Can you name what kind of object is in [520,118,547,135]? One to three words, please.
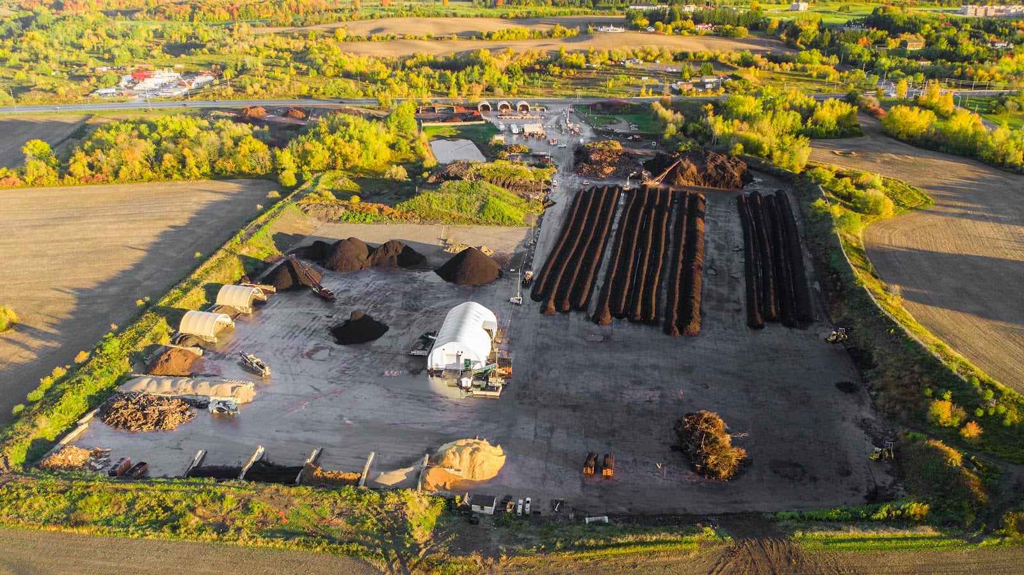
building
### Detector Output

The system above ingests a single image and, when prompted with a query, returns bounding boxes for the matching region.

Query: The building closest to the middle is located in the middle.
[427,301,506,371]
